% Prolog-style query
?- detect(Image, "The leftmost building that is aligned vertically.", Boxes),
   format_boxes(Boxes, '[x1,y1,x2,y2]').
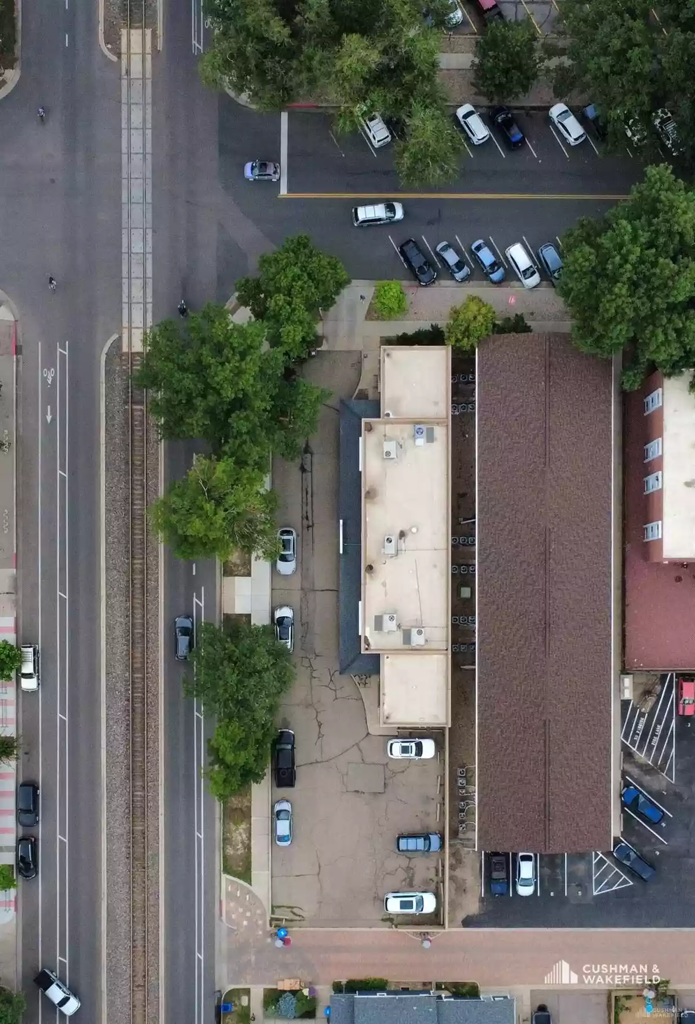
[338,346,451,726]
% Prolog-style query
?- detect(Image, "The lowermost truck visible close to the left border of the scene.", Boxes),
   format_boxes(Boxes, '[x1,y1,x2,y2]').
[28,967,81,1017]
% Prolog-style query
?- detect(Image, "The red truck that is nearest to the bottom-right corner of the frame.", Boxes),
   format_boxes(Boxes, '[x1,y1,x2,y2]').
[674,672,695,720]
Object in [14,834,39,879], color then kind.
black car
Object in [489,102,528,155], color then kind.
black truck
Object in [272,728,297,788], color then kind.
black truck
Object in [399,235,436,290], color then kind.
black car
